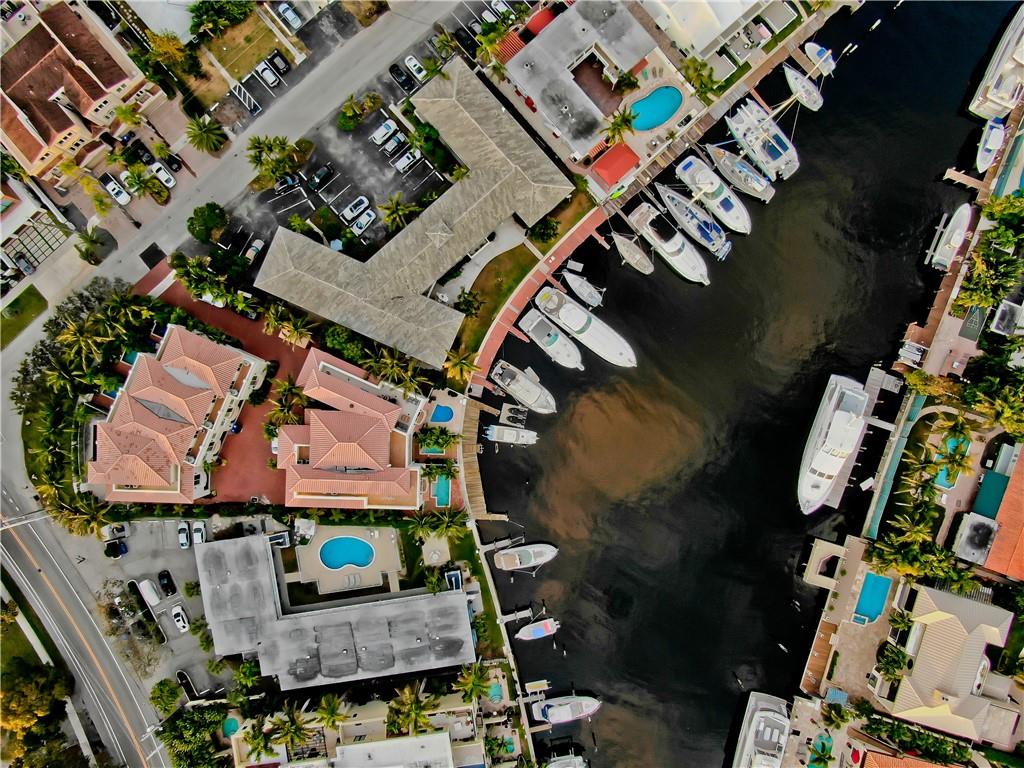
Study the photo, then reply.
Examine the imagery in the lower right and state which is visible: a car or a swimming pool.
swimming pool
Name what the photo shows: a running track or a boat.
boat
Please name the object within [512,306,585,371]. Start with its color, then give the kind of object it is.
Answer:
white boat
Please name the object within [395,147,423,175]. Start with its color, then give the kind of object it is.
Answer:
white car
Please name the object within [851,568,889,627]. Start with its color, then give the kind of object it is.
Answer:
blue swimming pool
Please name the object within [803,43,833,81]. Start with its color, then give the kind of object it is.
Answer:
white boat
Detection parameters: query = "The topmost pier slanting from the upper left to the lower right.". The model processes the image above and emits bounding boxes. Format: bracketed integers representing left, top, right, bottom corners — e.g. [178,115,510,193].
[791,48,820,81]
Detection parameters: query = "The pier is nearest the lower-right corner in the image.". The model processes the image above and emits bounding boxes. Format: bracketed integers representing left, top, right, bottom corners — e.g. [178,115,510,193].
[802,539,844,589]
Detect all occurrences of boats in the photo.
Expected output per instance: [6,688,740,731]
[929,205,975,271]
[485,426,536,444]
[624,196,710,286]
[648,180,734,256]
[529,276,637,366]
[725,102,796,182]
[486,538,559,574]
[604,222,648,272]
[780,49,838,112]
[508,408,526,416]
[960,0,1024,125]
[728,691,789,768]
[532,690,602,725]
[514,614,559,638]
[541,748,592,768]
[487,349,556,412]
[512,306,585,371]
[803,43,833,81]
[711,250,730,269]
[698,125,774,206]
[798,369,873,515]
[506,416,525,424]
[974,115,1010,171]
[557,269,601,306]
[668,151,750,232]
